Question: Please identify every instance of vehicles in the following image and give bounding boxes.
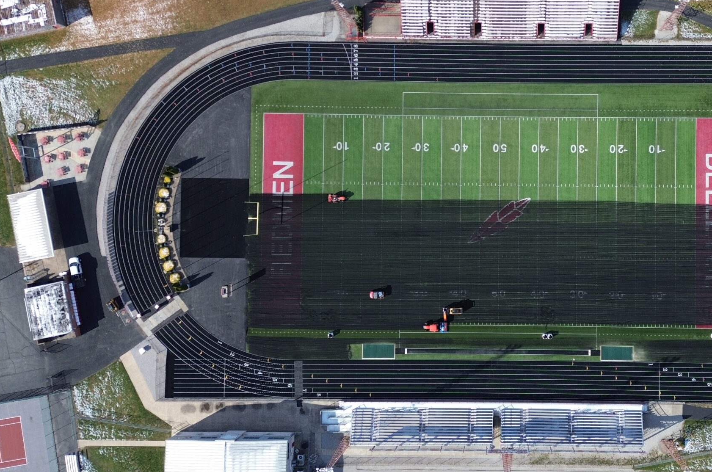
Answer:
[369,292,384,299]
[328,195,345,202]
[103,297,117,311]
[70,259,85,286]
[450,309,464,316]
[422,322,440,333]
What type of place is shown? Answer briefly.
sports ground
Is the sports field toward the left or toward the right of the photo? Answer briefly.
right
